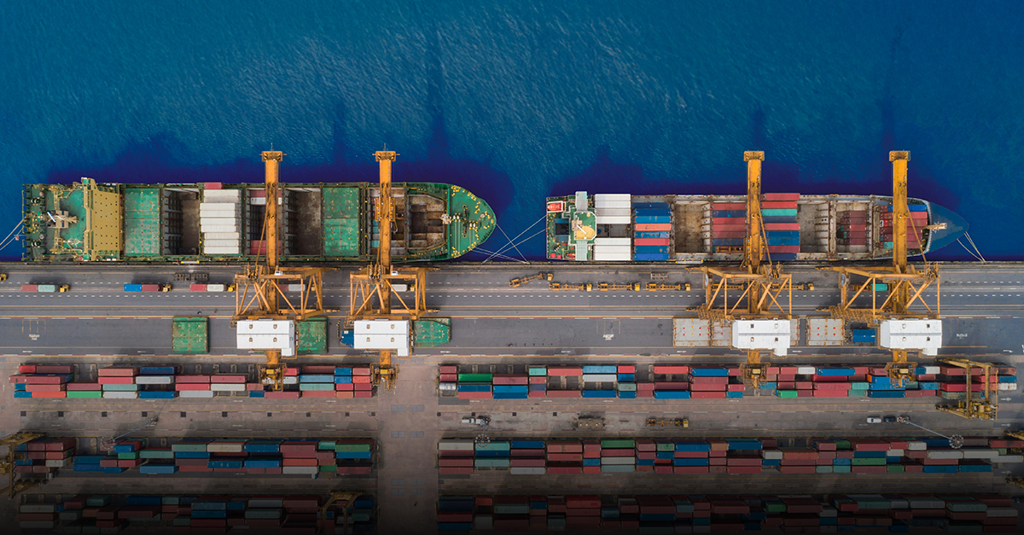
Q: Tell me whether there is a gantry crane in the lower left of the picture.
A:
Yes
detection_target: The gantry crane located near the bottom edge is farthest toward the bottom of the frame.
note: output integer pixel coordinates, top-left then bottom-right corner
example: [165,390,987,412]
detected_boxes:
[319,491,362,535]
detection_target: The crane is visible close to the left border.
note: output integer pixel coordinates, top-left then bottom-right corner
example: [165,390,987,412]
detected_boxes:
[0,433,48,500]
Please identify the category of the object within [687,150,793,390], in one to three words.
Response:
container crane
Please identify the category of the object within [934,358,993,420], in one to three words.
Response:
container crane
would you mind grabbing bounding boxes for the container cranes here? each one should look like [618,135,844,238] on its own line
[227,144,339,390]
[822,150,943,390]
[319,491,362,535]
[0,433,48,500]
[341,144,445,390]
[687,150,793,390]
[934,358,993,420]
